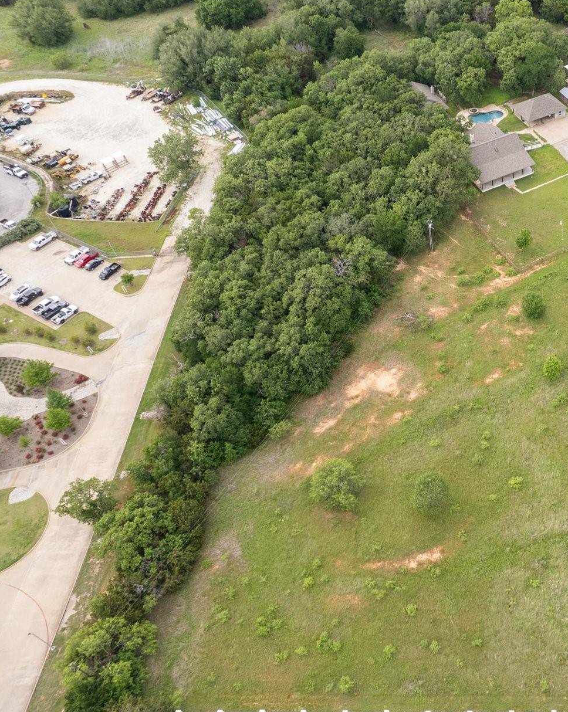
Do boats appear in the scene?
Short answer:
No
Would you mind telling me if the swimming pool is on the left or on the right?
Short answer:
right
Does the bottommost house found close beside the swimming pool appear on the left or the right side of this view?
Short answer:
right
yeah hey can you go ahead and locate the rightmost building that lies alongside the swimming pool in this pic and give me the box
[509,94,568,133]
